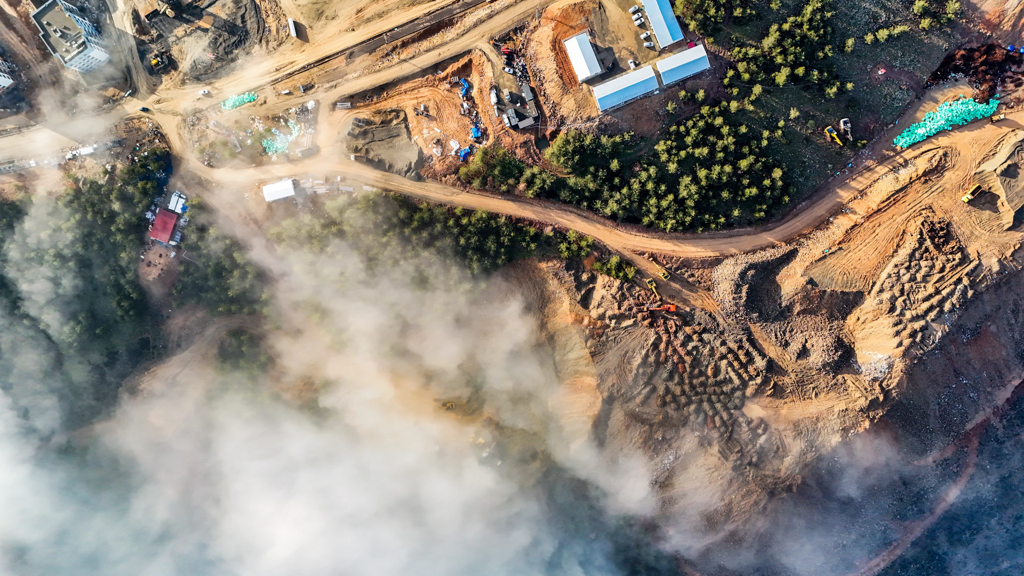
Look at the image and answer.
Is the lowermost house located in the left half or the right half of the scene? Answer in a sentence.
The lowermost house is on the left side of the image.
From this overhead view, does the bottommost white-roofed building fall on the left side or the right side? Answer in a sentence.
You can find the bottommost white-roofed building on the left side of the picture.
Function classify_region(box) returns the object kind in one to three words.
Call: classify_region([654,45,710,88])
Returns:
building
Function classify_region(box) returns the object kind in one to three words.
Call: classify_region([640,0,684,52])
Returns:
building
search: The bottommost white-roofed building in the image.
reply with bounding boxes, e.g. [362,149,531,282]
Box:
[262,178,300,204]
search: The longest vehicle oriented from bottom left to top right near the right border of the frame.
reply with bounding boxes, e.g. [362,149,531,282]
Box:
[964,182,987,201]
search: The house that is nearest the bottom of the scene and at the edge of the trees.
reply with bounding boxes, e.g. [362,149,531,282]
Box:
[149,208,178,245]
